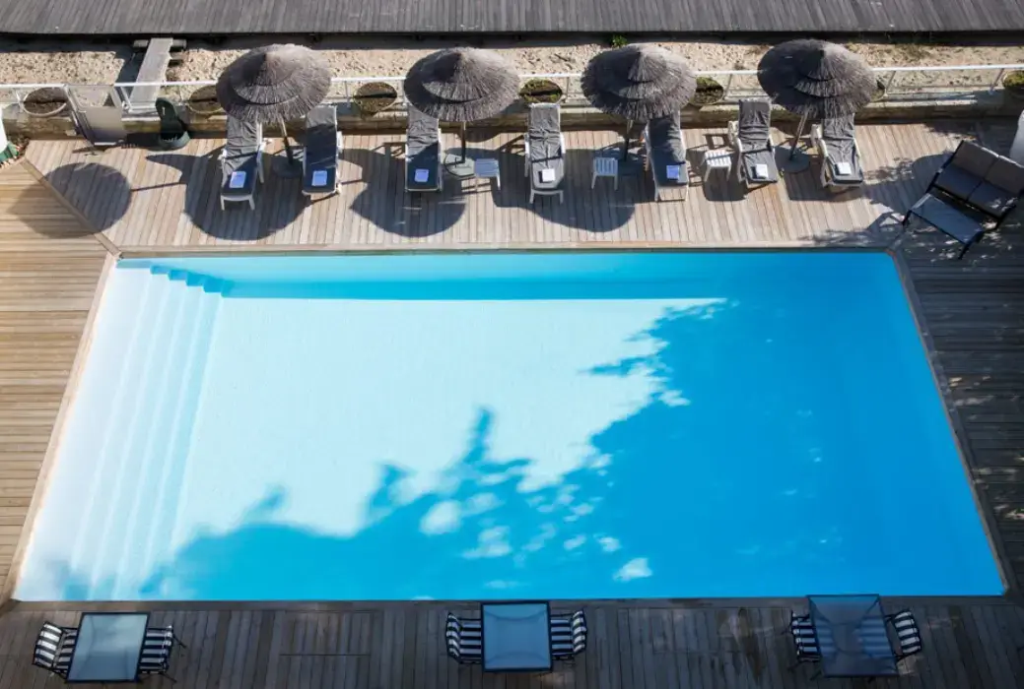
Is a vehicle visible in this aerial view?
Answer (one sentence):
No, the photo shows no vehicle.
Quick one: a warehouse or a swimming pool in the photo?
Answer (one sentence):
Visible in the photo is a swimming pool.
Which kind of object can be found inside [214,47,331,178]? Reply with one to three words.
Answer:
umbrella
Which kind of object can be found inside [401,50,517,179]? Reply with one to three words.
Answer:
umbrella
